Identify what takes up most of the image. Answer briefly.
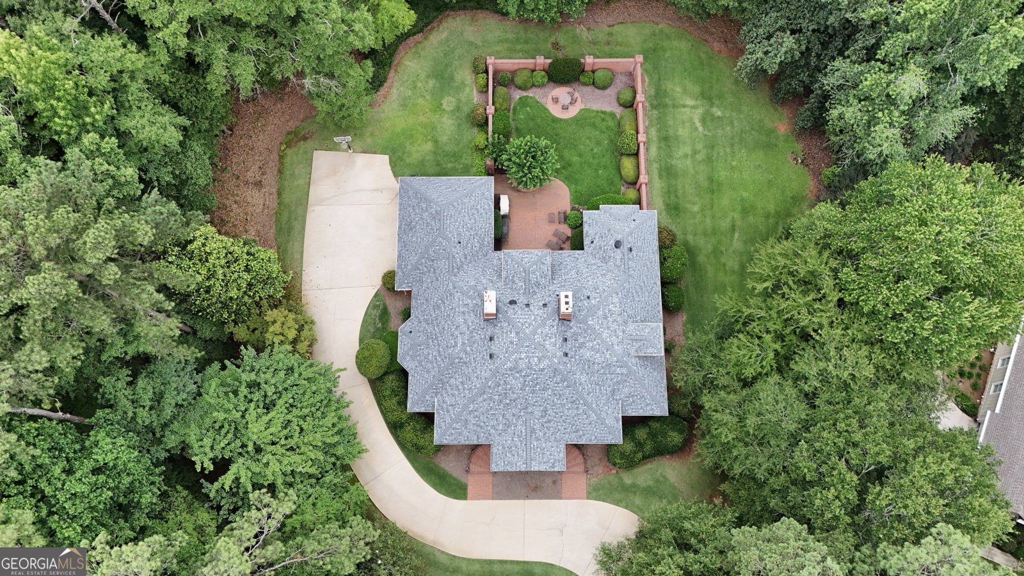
trees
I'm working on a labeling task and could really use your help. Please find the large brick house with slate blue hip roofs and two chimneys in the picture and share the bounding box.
[393,176,668,473]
